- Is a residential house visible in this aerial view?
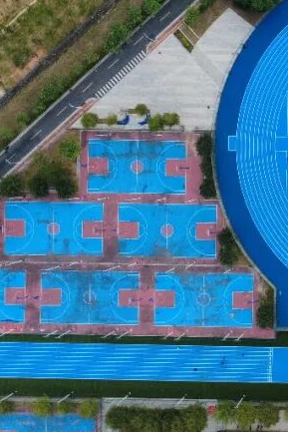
No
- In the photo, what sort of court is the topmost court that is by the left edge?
basketball court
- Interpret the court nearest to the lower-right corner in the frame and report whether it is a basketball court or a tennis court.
basketball court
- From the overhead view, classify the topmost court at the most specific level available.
basketball court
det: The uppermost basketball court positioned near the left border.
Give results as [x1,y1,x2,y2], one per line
[4,203,103,255]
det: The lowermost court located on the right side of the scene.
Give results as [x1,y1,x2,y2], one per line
[155,272,253,328]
